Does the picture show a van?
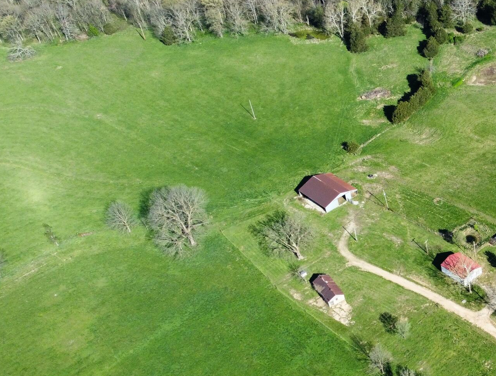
No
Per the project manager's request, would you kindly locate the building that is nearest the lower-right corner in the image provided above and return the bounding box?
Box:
[437,253,482,287]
